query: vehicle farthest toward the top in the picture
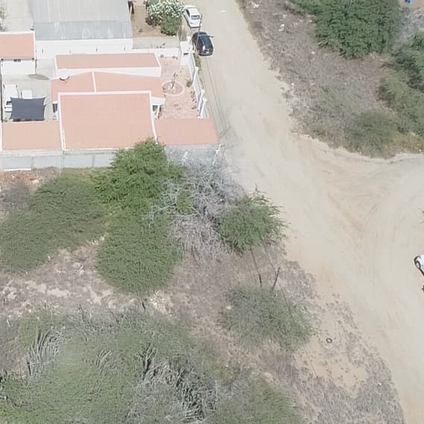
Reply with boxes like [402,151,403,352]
[183,6,202,30]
